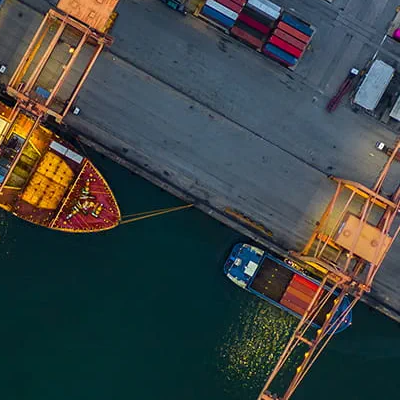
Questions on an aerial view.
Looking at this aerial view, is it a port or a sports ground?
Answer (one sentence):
This image shows a port.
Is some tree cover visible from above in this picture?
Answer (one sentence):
No, there's no tree cover in this view.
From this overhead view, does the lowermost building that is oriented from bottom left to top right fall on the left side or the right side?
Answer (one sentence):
You can find the lowermost building that is oriented from bottom left to top right on the right side of the picture.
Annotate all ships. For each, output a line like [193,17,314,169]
[221,240,354,329]
[0,100,121,231]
